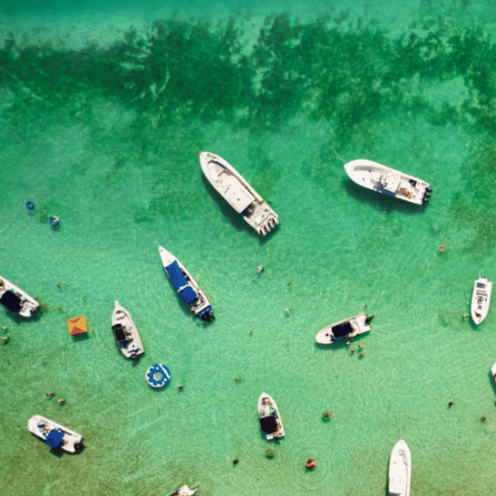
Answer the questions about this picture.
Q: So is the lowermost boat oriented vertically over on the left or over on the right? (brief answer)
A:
right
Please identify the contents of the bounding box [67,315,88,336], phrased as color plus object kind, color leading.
orange tent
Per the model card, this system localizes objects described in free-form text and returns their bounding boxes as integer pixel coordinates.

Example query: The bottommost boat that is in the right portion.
[388,440,412,496]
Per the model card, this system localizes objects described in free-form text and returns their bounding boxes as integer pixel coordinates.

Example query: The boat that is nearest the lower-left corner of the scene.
[30,415,90,451]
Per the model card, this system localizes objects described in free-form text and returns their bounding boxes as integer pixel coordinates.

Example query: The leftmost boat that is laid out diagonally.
[0,276,49,319]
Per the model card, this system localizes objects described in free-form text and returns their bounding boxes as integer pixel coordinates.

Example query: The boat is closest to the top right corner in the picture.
[333,152,434,206]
